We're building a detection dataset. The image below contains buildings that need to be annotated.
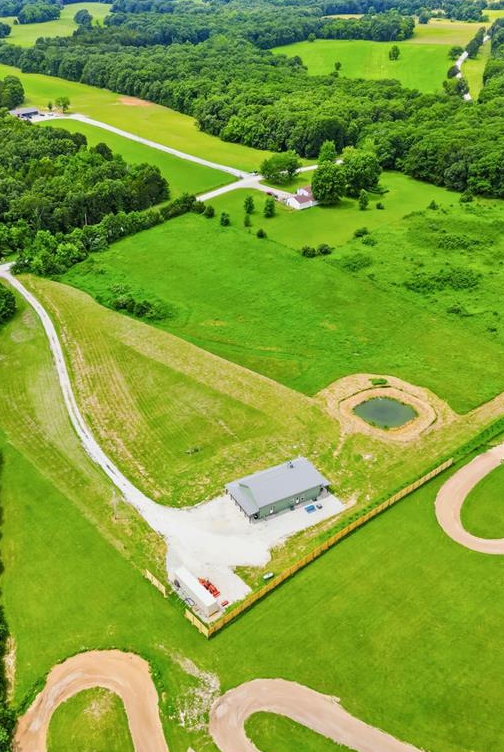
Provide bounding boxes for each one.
[6,106,39,118]
[224,458,330,524]
[286,187,314,210]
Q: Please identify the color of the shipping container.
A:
white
